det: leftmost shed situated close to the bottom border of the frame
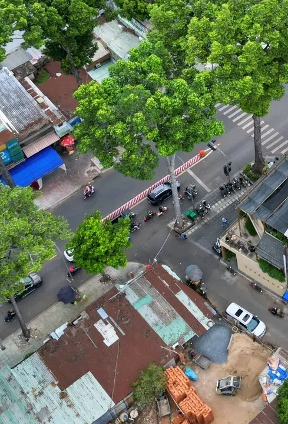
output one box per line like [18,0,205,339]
[0,264,217,424]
